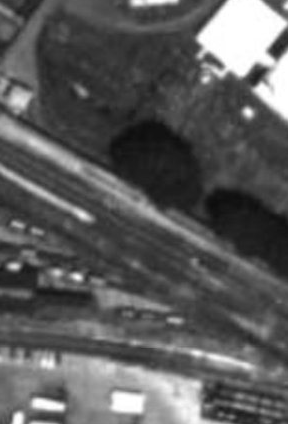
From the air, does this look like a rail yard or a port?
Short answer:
rail yard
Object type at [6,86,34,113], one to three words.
shed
